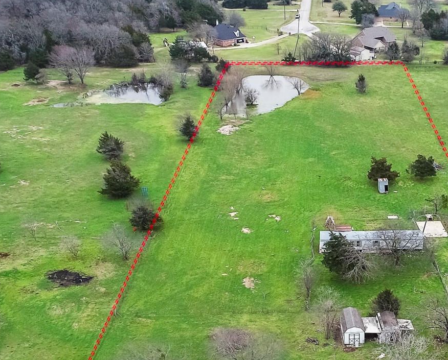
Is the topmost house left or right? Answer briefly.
right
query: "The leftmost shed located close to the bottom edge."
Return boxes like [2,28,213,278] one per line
[341,308,366,346]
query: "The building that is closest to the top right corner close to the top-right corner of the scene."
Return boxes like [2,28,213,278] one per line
[380,0,426,21]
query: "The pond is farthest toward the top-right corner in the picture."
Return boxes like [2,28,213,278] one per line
[223,75,310,117]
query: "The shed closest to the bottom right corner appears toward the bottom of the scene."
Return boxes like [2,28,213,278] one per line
[379,311,400,342]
